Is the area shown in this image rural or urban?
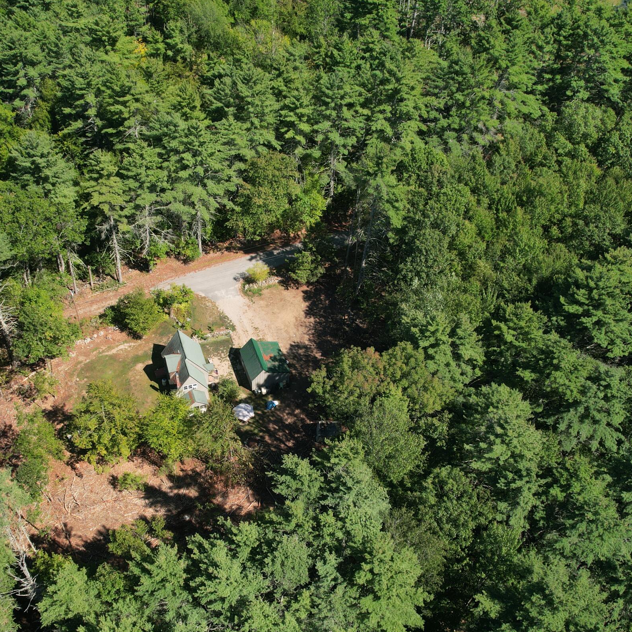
rural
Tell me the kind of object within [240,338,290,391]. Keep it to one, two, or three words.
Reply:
building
